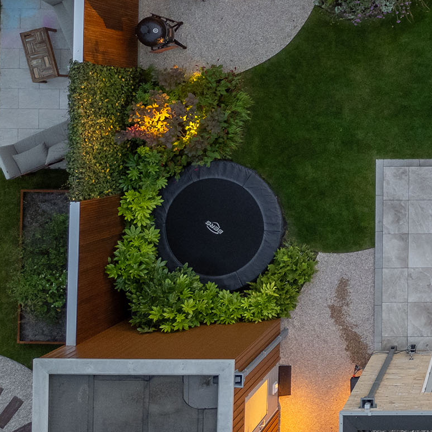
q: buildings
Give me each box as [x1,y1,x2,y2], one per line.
[342,346,432,432]
[30,318,290,432]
